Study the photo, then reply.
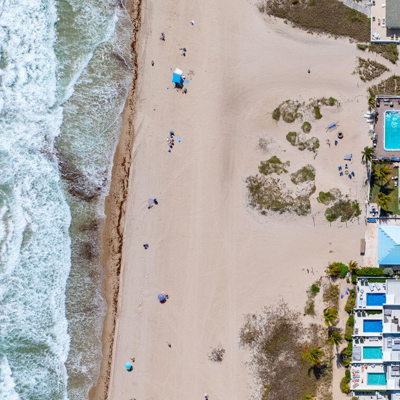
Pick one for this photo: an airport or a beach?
beach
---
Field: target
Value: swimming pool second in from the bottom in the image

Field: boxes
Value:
[362,346,383,360]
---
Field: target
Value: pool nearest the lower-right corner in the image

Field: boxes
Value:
[366,372,387,386]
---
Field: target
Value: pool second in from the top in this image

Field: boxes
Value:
[366,292,386,307]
